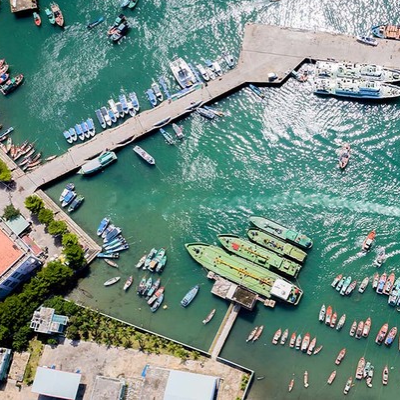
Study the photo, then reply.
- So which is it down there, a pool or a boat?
boat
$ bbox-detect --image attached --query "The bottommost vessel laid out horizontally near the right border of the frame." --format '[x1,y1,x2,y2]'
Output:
[312,79,400,99]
